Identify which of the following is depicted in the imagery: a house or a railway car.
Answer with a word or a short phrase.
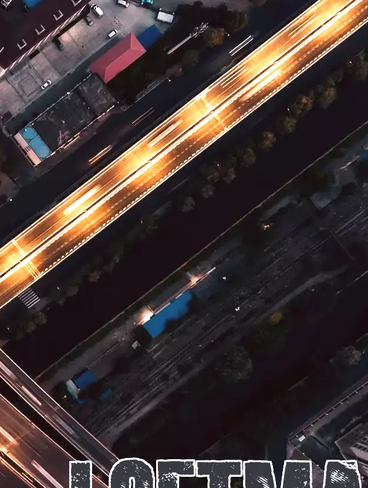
house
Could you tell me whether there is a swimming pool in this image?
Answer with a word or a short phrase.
No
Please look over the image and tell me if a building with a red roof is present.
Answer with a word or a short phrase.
Yes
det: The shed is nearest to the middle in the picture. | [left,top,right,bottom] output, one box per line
[141,290,196,338]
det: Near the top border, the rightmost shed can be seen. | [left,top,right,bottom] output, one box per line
[138,24,164,50]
